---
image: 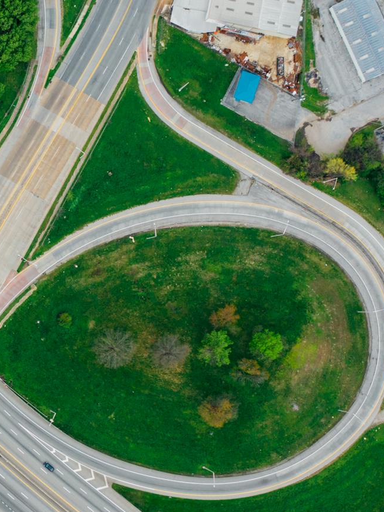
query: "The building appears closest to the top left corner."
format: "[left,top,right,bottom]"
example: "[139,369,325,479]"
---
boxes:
[166,0,216,38]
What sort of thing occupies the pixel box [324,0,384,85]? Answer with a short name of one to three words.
shed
